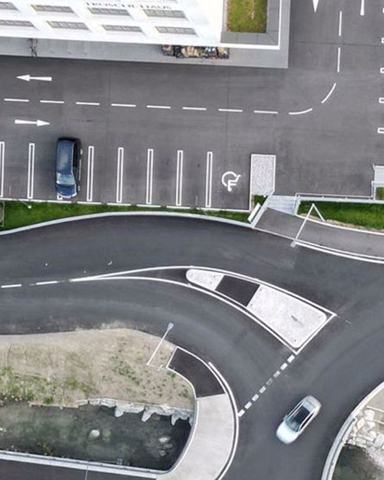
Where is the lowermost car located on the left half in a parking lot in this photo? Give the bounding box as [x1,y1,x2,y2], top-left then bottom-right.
[49,139,80,198]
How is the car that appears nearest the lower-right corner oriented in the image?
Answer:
diagonally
